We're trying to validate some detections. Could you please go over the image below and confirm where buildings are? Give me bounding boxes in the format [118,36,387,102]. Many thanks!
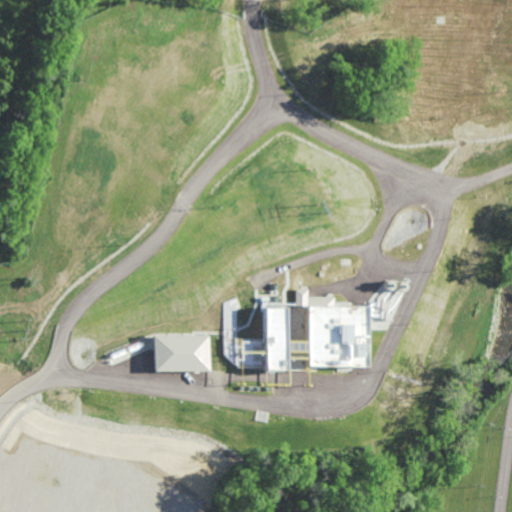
[154,335,211,374]
[258,288,372,373]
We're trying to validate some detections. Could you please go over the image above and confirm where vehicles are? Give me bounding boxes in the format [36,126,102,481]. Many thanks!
[184,374,194,385]
[102,352,132,366]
